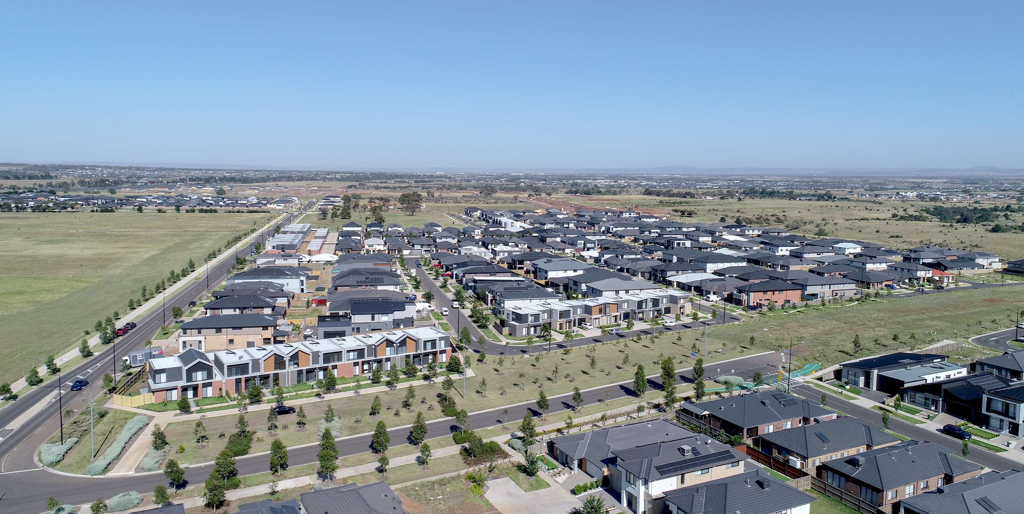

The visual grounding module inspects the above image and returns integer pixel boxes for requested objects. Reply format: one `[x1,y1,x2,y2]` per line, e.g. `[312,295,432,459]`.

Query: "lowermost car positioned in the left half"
[270,403,298,415]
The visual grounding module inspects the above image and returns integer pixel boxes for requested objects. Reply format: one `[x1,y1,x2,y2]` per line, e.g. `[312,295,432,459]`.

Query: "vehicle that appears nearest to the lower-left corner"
[65,378,95,390]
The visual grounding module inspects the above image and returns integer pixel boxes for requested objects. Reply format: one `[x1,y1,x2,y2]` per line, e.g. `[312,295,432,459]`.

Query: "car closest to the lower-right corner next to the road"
[940,424,976,440]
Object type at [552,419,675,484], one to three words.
house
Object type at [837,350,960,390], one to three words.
house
